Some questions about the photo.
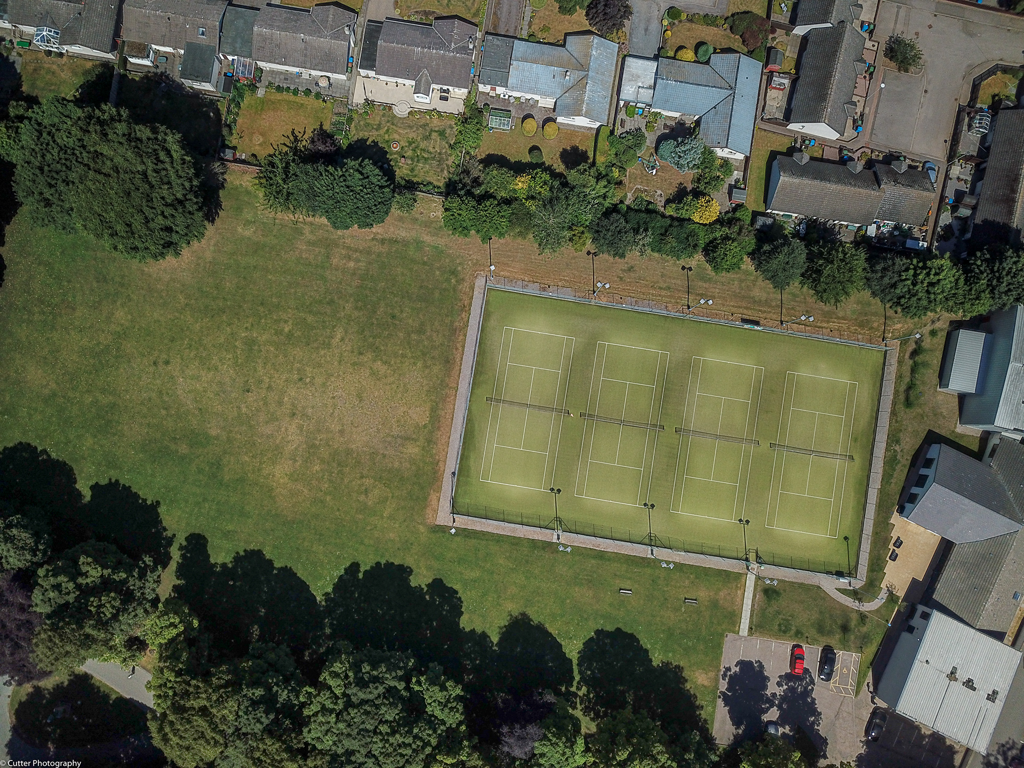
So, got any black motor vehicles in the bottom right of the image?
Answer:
Yes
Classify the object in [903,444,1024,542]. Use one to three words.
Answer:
building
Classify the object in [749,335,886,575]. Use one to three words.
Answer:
tennis court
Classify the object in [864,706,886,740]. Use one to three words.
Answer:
car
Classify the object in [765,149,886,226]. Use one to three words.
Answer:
house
